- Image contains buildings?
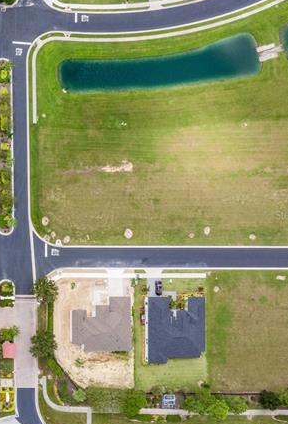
Yes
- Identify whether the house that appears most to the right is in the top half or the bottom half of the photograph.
bottom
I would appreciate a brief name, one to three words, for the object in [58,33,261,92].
pond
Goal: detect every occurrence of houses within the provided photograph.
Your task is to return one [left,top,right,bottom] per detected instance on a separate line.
[144,296,206,363]
[70,296,131,352]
